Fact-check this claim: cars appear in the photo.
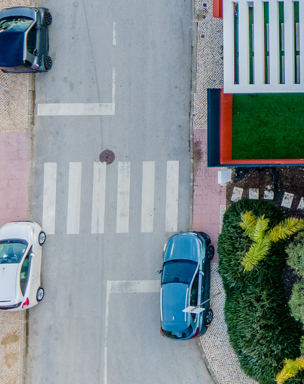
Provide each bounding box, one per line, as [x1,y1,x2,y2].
[0,4,61,74]
[0,217,50,313]
[146,228,211,341]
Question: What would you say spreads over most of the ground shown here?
paved ground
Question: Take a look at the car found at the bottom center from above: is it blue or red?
blue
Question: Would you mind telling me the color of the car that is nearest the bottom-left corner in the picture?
white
